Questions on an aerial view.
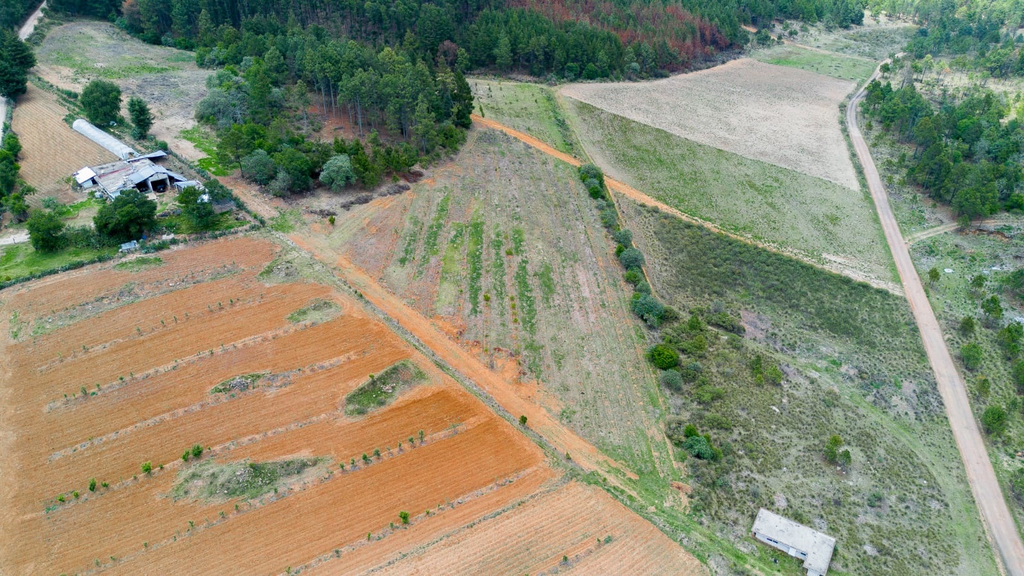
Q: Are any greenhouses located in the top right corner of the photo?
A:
No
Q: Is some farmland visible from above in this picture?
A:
Yes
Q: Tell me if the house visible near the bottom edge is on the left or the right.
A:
right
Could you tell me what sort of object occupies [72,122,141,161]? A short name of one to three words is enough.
greenhouse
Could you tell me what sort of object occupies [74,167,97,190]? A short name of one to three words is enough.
shed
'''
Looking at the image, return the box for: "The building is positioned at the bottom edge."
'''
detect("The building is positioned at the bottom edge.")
[750,509,835,576]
